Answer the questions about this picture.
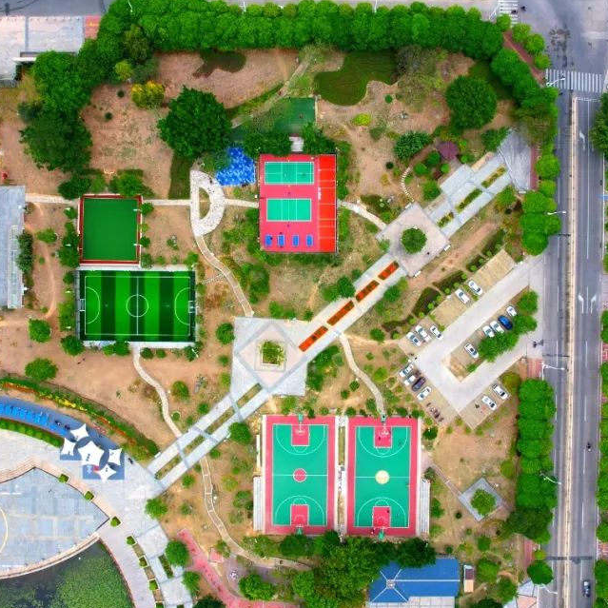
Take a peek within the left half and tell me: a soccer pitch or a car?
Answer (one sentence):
What appears within the left half is a soccer pitch.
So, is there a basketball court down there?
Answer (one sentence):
Yes, the image includes a basketball court.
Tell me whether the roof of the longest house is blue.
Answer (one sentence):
Yes, the roof of the longest house is blue.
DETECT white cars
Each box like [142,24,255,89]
[414,325,430,341]
[402,373,417,387]
[482,394,497,411]
[453,288,471,304]
[468,279,484,296]
[398,362,414,379]
[489,319,502,332]
[406,330,422,347]
[481,323,494,336]
[505,304,520,319]
[428,324,444,341]
[492,382,509,399]
[464,342,481,359]
[416,385,432,401]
